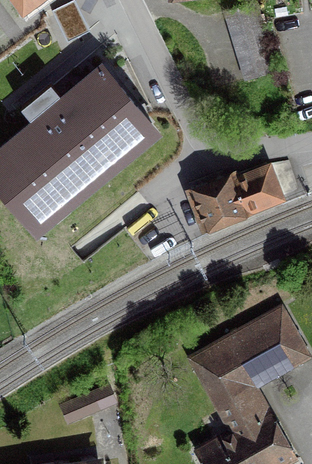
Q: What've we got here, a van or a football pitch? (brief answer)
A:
van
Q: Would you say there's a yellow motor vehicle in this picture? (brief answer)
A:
Yes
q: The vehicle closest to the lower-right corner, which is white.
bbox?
[149,235,178,259]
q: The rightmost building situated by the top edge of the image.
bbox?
[224,12,268,82]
